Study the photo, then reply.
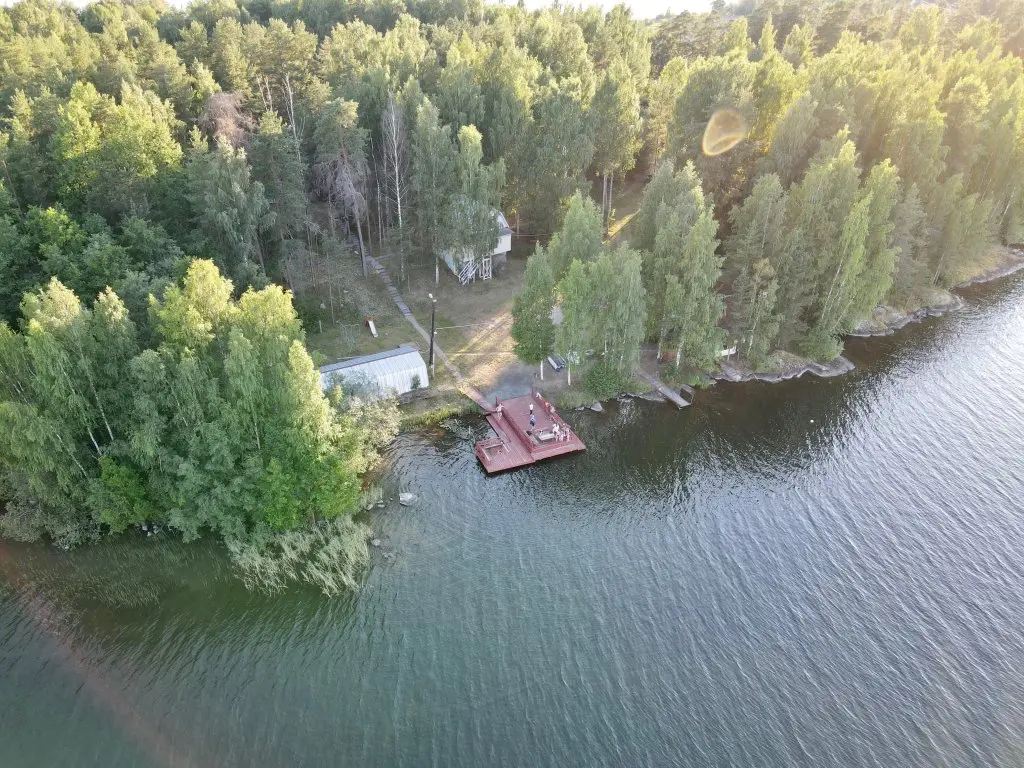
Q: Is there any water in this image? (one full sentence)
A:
Yes, some water is visible.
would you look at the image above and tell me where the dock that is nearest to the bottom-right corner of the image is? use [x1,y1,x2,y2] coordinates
[634,368,690,410]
